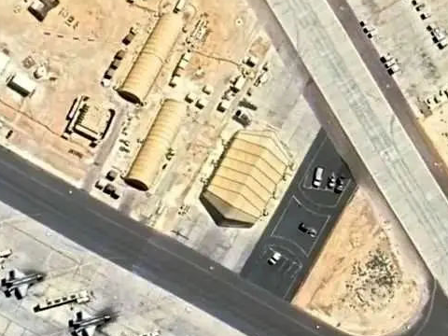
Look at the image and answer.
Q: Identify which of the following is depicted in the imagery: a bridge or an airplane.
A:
airplane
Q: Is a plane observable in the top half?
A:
No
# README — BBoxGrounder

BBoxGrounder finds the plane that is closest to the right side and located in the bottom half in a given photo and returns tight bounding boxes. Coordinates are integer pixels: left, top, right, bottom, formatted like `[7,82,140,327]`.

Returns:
[67,312,111,336]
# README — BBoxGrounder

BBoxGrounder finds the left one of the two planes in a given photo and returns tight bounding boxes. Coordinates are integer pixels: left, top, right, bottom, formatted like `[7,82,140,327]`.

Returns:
[0,270,43,299]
